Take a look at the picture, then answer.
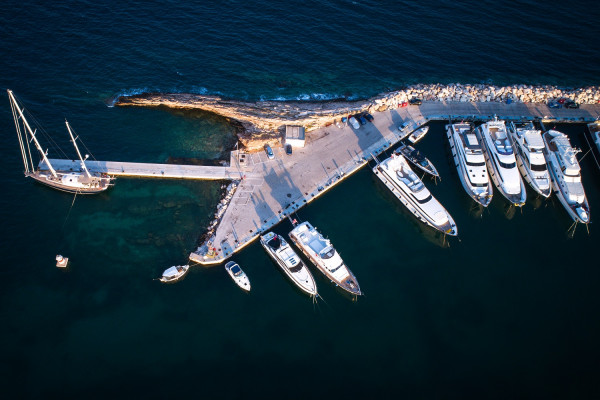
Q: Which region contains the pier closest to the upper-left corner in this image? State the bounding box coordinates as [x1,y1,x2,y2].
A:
[38,159,230,183]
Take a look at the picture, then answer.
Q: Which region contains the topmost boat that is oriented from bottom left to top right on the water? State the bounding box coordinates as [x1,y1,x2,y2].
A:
[408,123,428,145]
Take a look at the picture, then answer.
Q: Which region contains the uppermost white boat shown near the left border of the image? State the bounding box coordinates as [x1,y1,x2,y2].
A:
[4,89,115,210]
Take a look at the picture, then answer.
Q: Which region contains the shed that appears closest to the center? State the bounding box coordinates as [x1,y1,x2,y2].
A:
[284,125,306,147]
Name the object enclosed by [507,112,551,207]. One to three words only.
boat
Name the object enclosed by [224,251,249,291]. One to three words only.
boat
